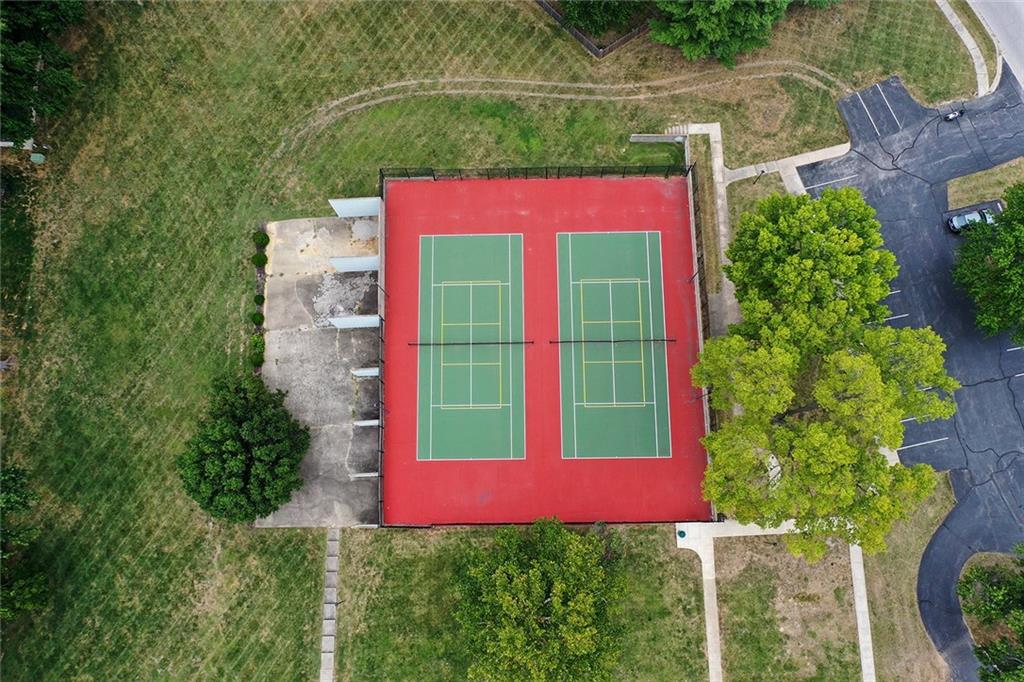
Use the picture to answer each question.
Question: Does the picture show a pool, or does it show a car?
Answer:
car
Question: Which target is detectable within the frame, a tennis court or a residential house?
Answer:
tennis court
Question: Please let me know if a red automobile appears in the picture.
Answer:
No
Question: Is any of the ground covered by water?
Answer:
No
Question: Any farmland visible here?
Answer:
No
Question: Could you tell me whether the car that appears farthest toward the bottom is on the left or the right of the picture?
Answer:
right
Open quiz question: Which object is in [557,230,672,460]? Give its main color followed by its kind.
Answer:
green tennis court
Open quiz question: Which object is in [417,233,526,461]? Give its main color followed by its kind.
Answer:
green tennis court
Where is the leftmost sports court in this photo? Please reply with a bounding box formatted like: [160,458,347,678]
[255,216,380,528]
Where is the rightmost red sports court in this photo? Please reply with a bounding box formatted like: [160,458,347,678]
[380,176,716,527]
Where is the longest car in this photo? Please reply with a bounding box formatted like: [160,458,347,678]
[946,209,996,233]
